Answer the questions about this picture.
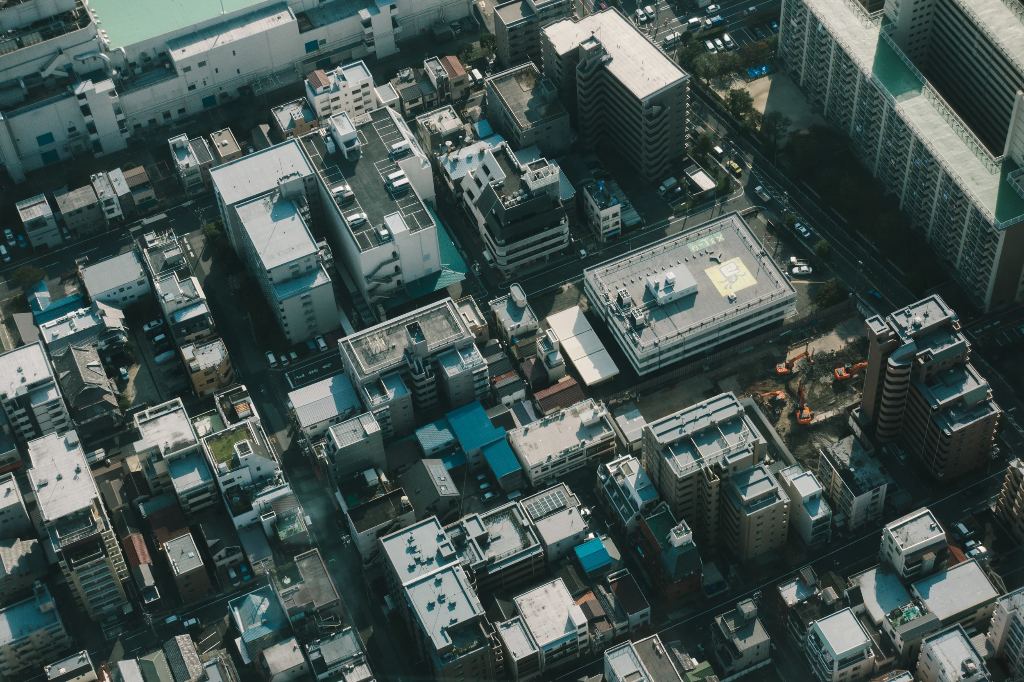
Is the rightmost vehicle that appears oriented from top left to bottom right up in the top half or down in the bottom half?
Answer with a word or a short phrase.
bottom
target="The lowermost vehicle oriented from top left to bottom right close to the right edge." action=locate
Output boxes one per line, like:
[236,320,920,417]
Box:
[950,517,973,539]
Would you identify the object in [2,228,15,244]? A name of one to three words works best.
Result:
vehicle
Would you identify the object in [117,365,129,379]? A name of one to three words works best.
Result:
vehicle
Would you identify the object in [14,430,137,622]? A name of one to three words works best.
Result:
building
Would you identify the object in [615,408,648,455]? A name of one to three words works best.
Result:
shed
